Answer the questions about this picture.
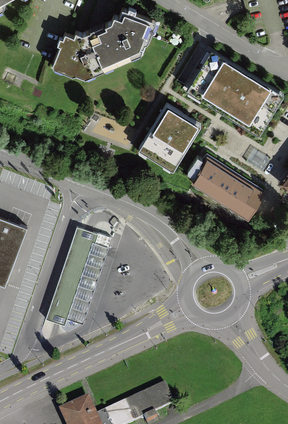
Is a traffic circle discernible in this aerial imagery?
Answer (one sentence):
Yes, the picture does show a traffic circle.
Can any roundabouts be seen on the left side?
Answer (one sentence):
No, no roundabout is visible on the left side.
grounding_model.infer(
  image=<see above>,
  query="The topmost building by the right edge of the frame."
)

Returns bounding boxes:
[187,50,284,137]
